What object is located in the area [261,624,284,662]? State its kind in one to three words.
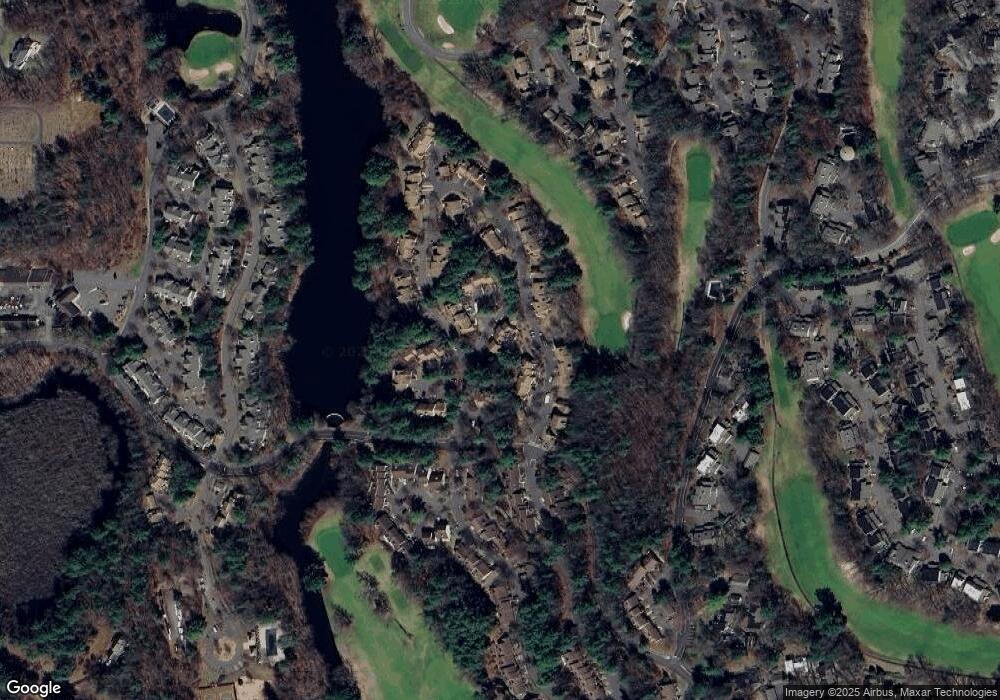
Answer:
swimming pool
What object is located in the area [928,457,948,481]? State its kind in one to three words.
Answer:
house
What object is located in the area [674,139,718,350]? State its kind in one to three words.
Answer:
golf course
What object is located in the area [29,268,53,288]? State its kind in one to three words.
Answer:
building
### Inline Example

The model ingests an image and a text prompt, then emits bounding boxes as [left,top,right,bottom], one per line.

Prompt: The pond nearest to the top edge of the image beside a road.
[145,0,241,51]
